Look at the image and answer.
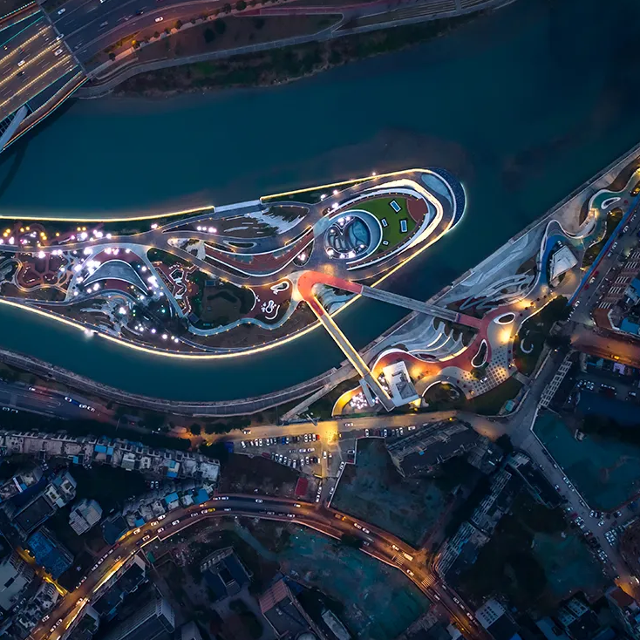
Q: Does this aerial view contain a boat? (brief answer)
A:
No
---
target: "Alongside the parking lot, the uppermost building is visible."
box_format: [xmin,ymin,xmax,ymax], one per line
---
[380,360,421,407]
